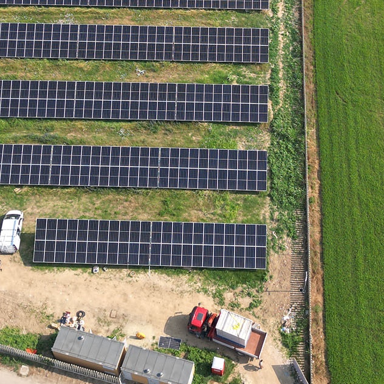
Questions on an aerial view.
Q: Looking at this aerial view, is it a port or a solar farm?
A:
solar farm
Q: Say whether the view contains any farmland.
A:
Yes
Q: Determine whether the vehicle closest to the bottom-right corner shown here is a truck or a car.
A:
truck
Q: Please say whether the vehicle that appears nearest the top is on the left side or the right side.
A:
left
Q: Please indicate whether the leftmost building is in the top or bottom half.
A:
bottom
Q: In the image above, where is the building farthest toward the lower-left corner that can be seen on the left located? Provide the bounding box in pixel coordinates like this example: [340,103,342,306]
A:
[51,326,126,377]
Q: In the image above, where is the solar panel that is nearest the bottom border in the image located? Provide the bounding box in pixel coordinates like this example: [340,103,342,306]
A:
[157,337,181,351]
